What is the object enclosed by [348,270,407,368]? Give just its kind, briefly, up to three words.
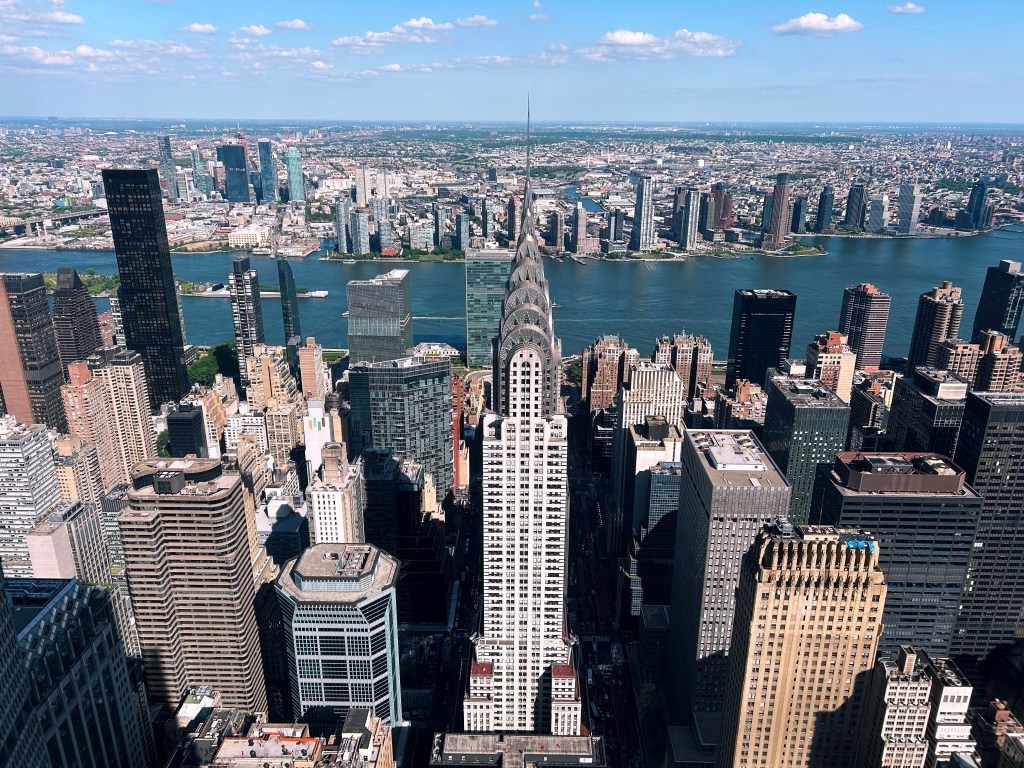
building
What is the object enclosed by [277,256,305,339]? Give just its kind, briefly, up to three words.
building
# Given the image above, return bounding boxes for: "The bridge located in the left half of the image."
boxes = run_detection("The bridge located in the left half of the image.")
[0,211,110,238]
